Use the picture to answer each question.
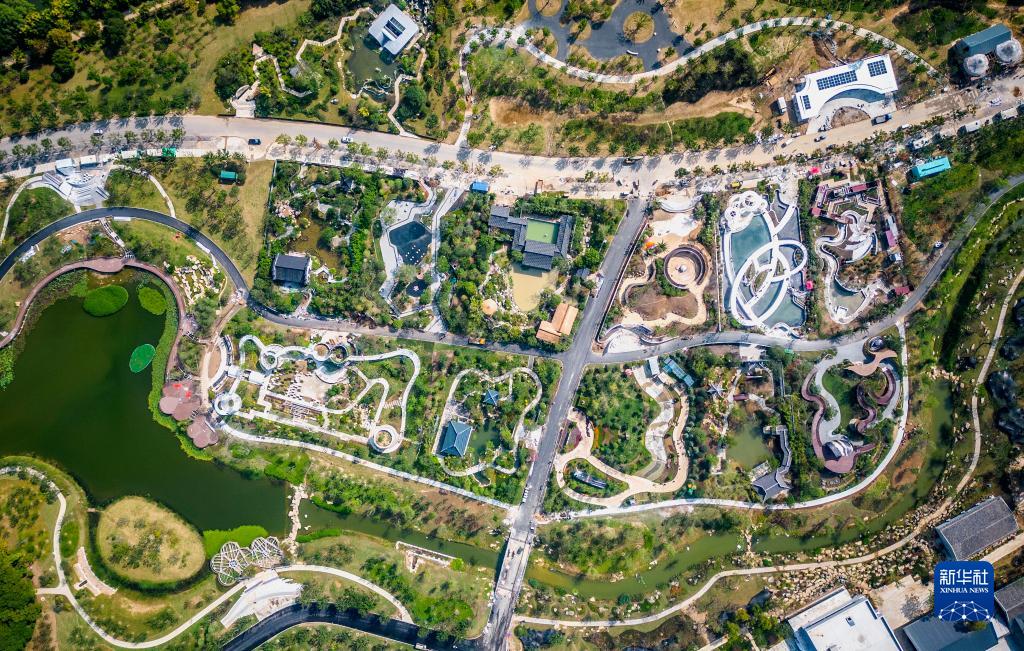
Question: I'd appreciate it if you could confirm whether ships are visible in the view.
No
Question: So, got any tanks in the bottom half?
No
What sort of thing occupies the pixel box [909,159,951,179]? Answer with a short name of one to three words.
shed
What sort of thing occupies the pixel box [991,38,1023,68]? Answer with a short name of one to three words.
storage tank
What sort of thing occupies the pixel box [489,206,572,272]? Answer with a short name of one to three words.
house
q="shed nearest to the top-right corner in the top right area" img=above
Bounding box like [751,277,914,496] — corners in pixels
[951,23,1012,58]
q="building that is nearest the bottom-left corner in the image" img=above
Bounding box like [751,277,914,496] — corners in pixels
[209,540,253,587]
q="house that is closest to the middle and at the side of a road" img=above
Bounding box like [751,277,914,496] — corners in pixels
[537,303,578,344]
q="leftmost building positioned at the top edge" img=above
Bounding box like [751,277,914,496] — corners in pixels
[369,2,423,55]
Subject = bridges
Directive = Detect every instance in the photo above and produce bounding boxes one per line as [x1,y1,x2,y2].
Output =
[496,517,532,603]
